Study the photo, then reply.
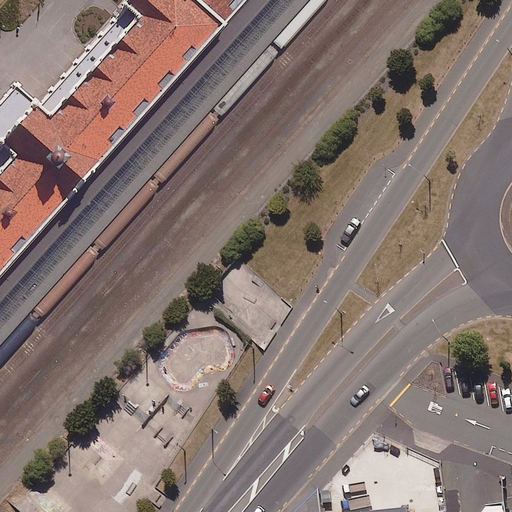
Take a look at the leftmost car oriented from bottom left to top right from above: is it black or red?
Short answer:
red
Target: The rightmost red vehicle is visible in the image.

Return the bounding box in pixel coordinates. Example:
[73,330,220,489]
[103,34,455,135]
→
[487,381,500,408]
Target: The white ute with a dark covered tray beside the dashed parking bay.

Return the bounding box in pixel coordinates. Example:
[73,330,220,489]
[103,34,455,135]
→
[338,217,362,246]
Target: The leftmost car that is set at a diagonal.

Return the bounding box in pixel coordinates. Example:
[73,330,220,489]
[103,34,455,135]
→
[256,382,276,406]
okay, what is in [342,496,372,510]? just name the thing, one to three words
vehicle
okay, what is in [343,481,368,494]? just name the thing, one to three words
vehicle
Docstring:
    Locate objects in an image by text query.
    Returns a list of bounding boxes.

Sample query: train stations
[0,0,311,348]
